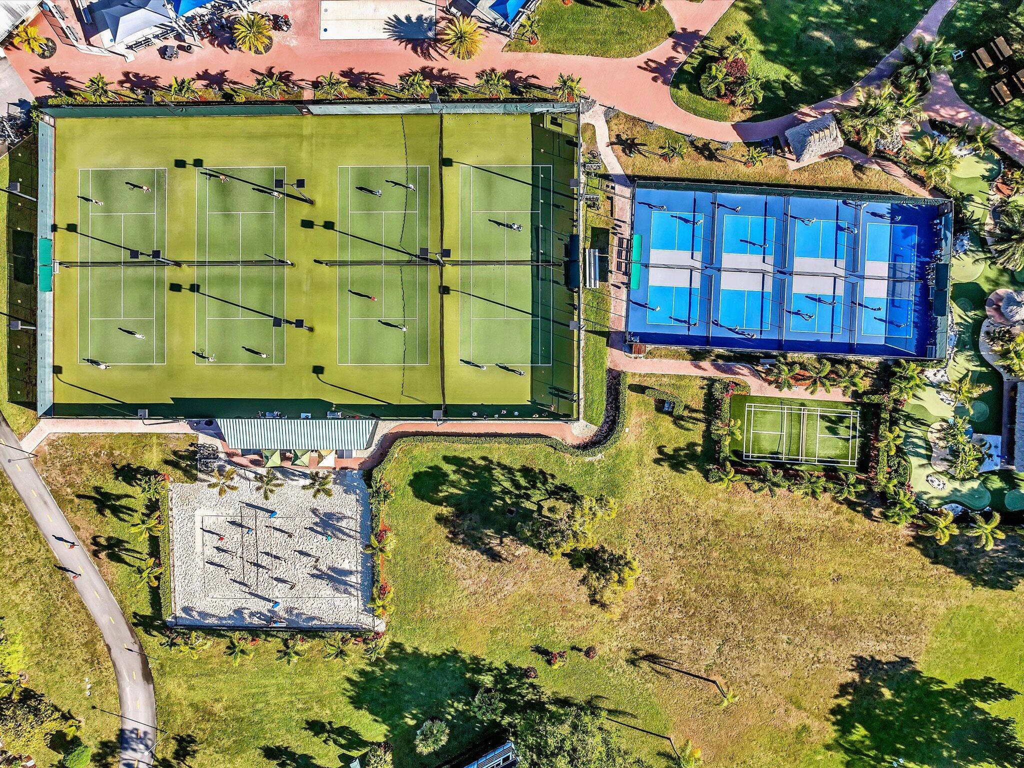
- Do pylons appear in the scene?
No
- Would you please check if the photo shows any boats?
No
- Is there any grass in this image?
Yes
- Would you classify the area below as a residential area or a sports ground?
sports ground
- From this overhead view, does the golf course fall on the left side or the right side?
right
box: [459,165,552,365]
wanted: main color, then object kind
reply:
green tennis court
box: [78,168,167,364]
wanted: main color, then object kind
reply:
green tennis court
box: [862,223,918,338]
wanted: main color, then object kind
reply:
blue sports court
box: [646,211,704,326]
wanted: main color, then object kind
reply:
blue sports court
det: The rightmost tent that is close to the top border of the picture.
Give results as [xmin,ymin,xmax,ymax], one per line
[488,0,531,38]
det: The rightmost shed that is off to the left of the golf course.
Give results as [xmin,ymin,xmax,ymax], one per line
[781,112,846,166]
